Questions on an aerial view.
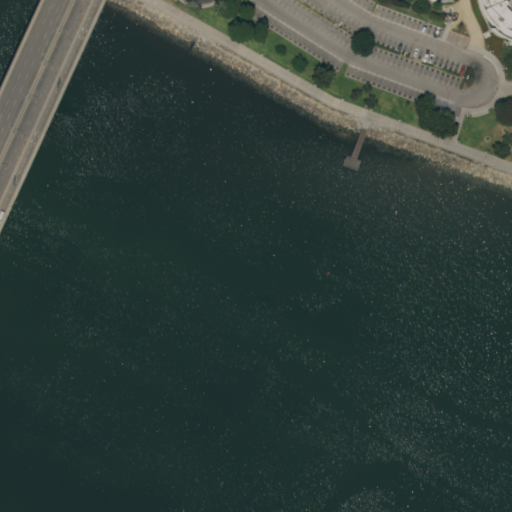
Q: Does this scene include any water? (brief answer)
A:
Yes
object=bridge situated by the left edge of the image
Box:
[0,0,106,234]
